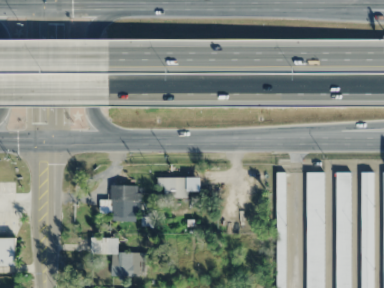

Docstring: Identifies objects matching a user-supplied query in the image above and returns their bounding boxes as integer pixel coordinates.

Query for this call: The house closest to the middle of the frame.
[158,177,201,198]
